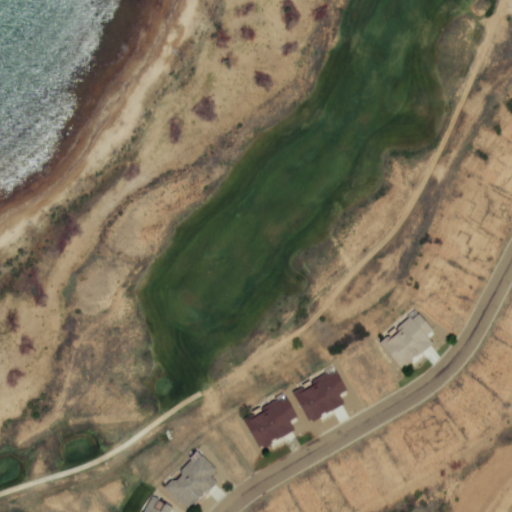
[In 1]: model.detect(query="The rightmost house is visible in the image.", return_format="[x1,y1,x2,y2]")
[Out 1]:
[381,312,434,368]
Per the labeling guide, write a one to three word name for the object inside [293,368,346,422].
house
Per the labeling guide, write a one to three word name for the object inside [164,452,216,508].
house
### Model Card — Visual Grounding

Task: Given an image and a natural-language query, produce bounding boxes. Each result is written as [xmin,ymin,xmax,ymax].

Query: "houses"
[293,368,346,422]
[244,396,298,450]
[164,452,216,508]
[142,496,175,512]
[381,312,434,368]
